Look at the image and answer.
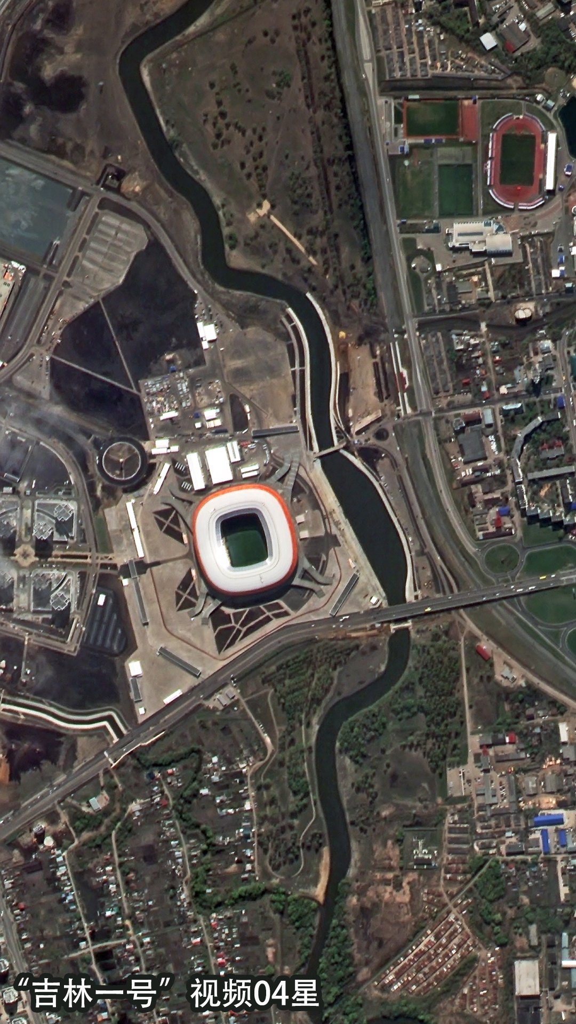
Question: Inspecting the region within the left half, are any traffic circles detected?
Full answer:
No, I can find no traffic circle within the left half.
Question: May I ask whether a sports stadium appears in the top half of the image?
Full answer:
Yes, there is a sports stadium in the top half of the image.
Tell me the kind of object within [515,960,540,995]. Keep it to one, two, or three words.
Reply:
building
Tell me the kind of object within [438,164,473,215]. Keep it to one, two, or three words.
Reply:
soccer field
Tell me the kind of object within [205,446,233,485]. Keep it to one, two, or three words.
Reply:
building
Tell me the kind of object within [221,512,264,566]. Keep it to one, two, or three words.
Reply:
sports field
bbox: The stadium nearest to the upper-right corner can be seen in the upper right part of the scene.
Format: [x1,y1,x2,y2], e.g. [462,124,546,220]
[486,108,558,211]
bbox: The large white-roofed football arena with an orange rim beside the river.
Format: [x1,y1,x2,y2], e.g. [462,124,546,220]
[186,478,302,601]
